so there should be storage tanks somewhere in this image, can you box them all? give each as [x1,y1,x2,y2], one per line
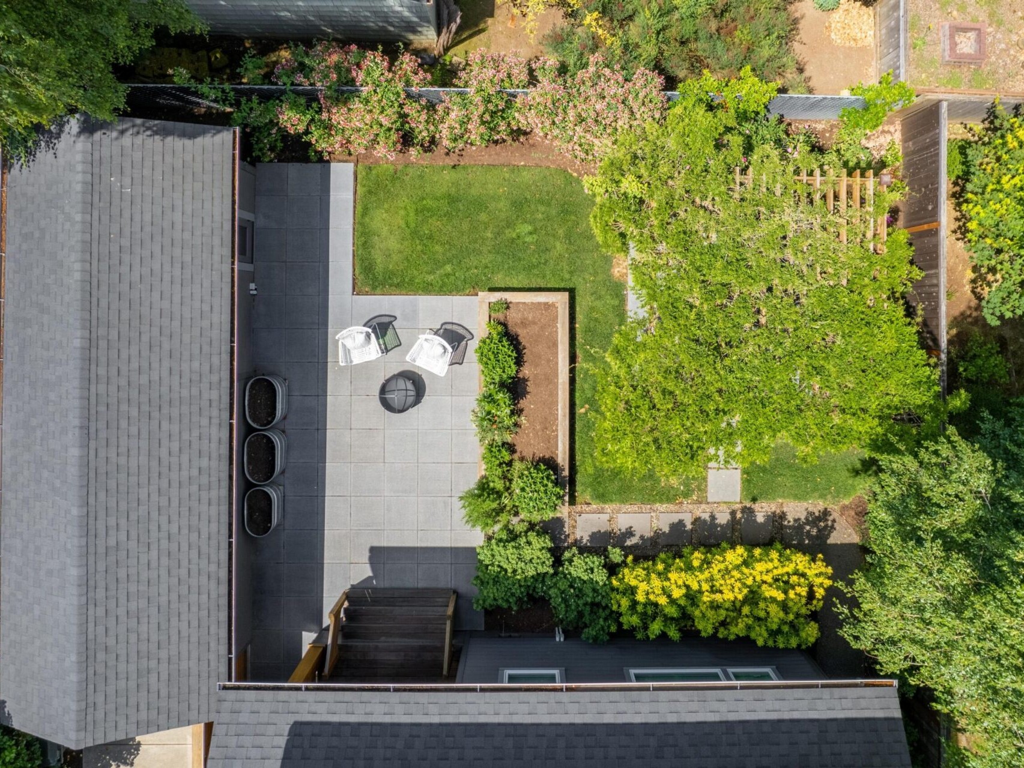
[244,485,284,537]
[245,376,286,429]
[244,431,286,484]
